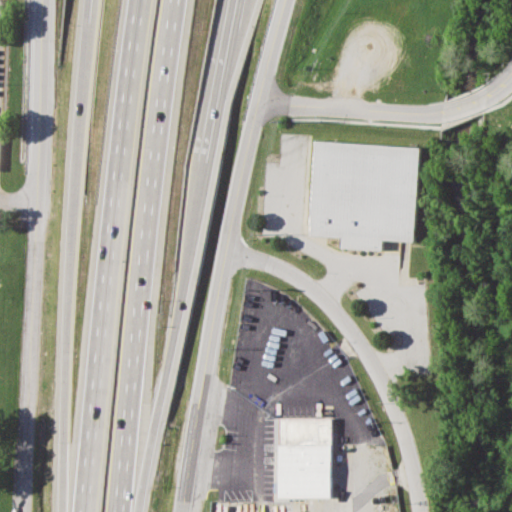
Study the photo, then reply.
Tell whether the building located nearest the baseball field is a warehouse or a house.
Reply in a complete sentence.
I'd say the building located nearest the baseball field is a warehouse.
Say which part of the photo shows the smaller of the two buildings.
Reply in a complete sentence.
You can find the smaller of the two buildings in the bottom area of the picture.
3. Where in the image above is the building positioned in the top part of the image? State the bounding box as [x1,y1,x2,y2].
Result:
[310,141,420,252]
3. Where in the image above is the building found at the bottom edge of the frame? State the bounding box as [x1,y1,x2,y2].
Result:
[277,418,332,500]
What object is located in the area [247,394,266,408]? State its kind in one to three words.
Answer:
vehicle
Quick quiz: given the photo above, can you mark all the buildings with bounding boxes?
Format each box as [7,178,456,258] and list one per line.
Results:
[310,141,420,252]
[277,418,332,500]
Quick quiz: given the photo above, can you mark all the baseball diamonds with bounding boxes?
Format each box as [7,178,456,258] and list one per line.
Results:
[286,0,448,104]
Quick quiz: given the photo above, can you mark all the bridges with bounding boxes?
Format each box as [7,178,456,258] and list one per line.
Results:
[442,62,512,130]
